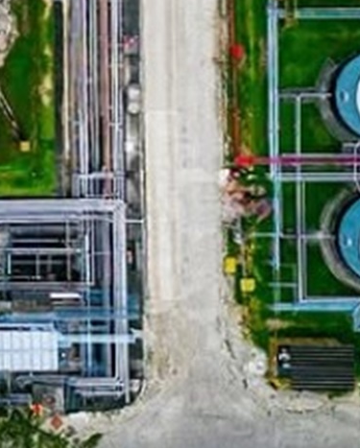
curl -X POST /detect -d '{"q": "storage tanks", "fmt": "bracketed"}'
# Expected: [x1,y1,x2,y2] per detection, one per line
[320,39,360,152]
[321,183,360,296]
